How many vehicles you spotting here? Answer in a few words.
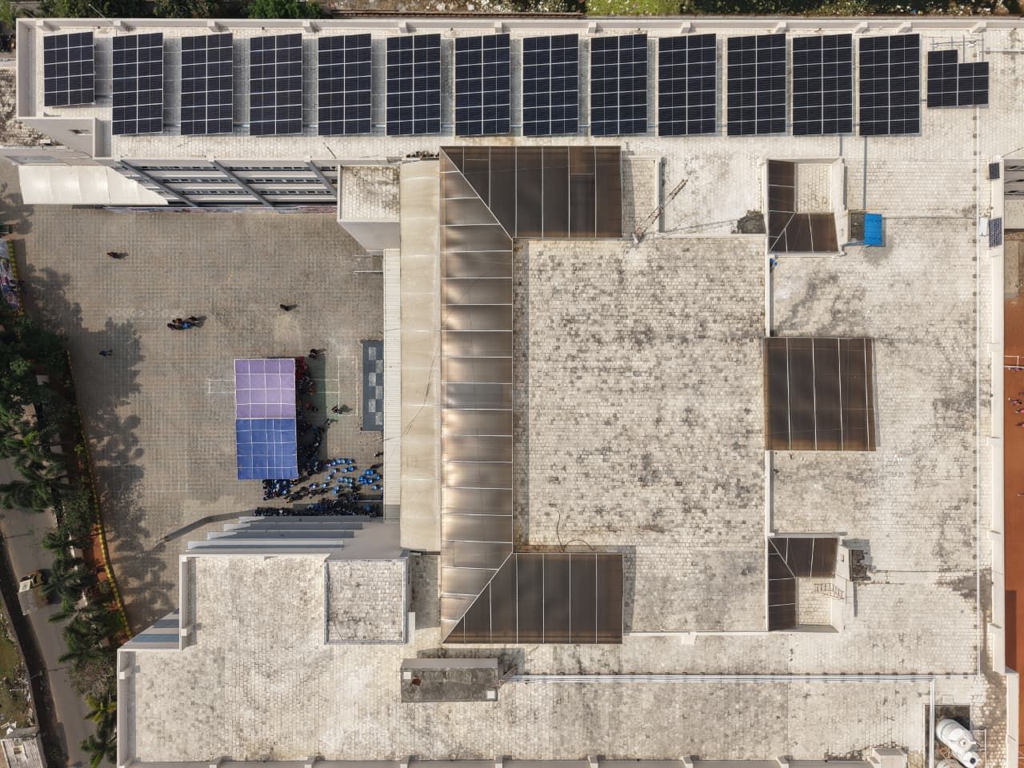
1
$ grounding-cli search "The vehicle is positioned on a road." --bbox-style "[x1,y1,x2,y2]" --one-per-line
[24,575,53,619]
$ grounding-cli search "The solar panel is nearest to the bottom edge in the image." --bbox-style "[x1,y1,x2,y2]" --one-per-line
[984,217,1002,247]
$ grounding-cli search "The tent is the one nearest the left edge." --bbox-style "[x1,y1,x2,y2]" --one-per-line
[235,359,306,479]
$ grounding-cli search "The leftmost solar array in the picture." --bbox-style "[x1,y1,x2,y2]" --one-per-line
[45,32,103,111]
